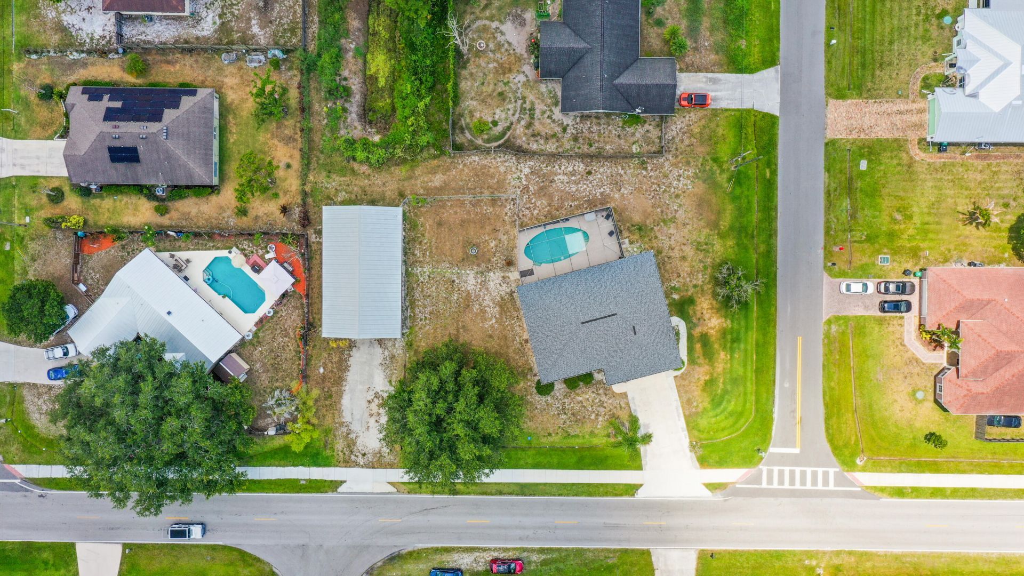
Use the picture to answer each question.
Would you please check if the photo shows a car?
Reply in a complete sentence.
Yes, there's a car down there.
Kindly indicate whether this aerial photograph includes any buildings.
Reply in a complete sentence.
Yes, the frame does contain a building.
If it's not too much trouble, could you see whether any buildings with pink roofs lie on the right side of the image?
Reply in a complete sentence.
Yes, a building with a pink roof shows up on the right side of the image.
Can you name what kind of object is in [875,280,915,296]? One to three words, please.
car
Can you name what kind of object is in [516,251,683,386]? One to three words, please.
house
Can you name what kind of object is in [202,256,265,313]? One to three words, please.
swimming pool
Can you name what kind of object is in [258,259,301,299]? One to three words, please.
gazebo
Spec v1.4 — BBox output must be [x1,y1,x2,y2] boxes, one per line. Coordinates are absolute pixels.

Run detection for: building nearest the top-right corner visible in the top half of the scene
[919,0,1024,143]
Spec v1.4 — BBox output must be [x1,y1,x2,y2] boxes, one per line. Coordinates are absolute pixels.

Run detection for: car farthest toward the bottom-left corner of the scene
[165,522,205,540]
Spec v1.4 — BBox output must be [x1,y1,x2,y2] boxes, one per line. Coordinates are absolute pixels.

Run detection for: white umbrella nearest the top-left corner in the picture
[233,254,247,268]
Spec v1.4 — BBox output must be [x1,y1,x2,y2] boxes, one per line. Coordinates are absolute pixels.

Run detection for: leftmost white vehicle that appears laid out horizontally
[41,343,80,361]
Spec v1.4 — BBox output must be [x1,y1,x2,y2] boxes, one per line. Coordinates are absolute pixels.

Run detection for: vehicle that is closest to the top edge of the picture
[678,91,711,108]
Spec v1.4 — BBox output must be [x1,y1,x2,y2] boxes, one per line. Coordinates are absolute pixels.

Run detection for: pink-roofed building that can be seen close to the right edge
[913,267,1024,415]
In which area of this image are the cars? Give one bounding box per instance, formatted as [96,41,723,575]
[984,415,1021,430]
[877,299,911,315]
[431,565,463,576]
[47,362,83,378]
[678,91,711,108]
[44,306,77,341]
[875,280,915,296]
[838,280,873,296]
[490,558,522,576]
[165,522,205,540]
